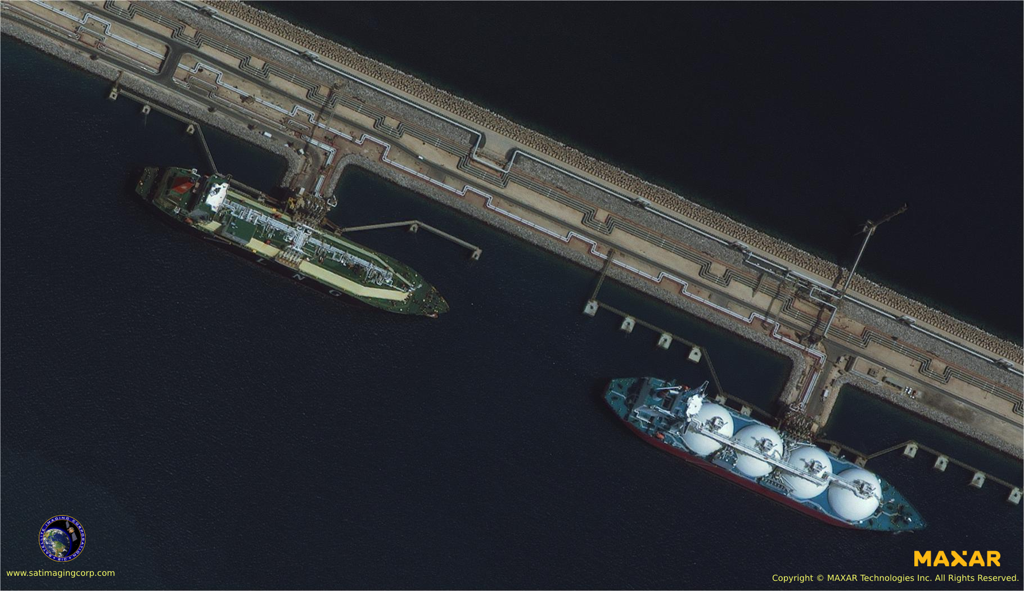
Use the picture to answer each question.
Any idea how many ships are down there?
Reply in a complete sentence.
My tally gives 2 ships in this view.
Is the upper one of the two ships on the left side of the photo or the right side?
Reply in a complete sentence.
The upper one of the two ships appears in the left half of the scene.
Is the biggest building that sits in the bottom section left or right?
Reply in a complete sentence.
You can find the biggest building that sits in the bottom section on the right side of the picture.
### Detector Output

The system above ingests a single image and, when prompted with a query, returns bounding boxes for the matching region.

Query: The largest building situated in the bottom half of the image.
[849,356,885,384]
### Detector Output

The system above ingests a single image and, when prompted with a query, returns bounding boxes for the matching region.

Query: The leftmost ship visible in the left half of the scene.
[137,167,450,319]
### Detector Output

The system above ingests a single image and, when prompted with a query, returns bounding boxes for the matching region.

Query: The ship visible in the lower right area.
[604,378,925,534]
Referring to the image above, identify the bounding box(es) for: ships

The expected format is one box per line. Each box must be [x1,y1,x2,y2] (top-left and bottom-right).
[604,378,925,534]
[137,167,450,319]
